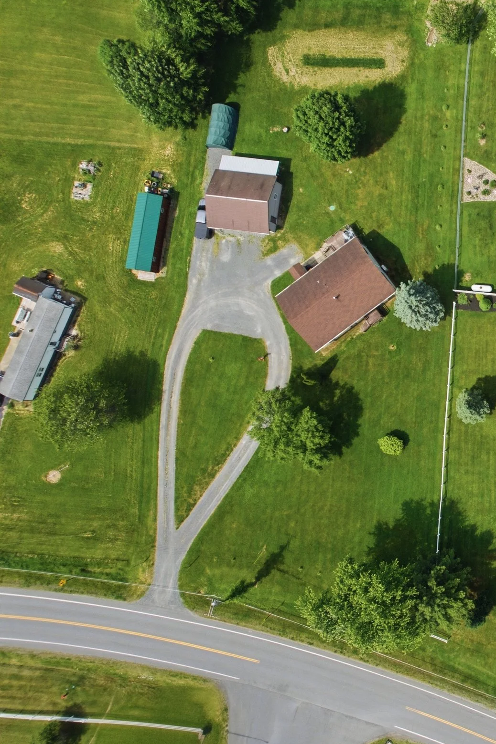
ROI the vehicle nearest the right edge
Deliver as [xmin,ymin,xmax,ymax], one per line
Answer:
[193,198,215,240]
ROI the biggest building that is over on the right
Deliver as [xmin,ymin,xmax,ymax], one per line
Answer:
[274,224,397,352]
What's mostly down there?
grass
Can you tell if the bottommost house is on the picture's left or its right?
left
